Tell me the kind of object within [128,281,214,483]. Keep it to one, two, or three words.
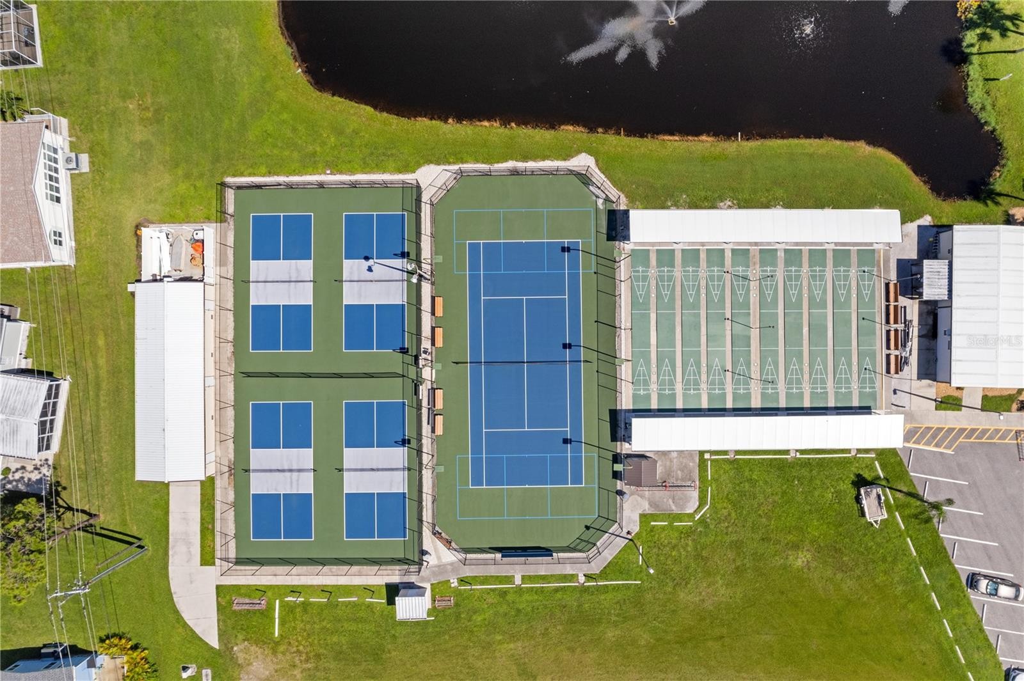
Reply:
barn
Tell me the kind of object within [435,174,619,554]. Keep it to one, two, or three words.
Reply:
tennis court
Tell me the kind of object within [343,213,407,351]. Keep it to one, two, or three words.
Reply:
sports court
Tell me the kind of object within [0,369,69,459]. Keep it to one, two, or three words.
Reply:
house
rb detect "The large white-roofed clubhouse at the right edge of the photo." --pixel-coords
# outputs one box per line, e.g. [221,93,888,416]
[937,224,1024,387]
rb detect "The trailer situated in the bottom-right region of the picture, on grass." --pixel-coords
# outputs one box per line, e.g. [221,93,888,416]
[862,485,893,532]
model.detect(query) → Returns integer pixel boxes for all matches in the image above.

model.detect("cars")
[971,572,1024,600]
[1009,666,1024,681]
